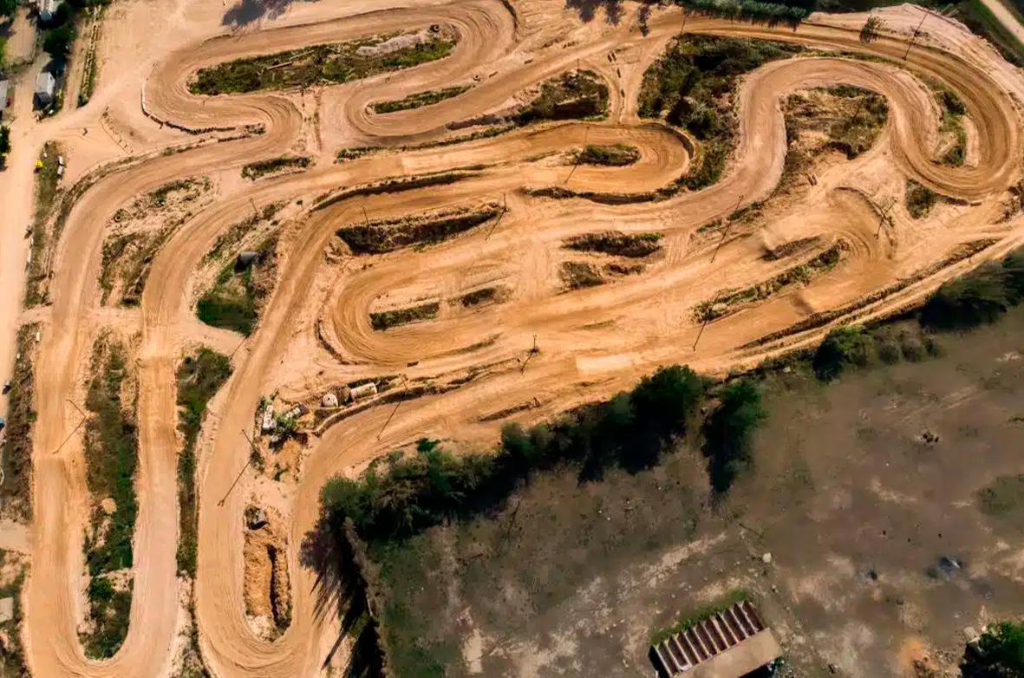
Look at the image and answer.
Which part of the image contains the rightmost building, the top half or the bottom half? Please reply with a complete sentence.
It is in the bottom half that the rightmost building appears.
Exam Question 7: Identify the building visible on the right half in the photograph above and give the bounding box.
[650,598,786,678]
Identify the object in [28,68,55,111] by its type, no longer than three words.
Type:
shed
